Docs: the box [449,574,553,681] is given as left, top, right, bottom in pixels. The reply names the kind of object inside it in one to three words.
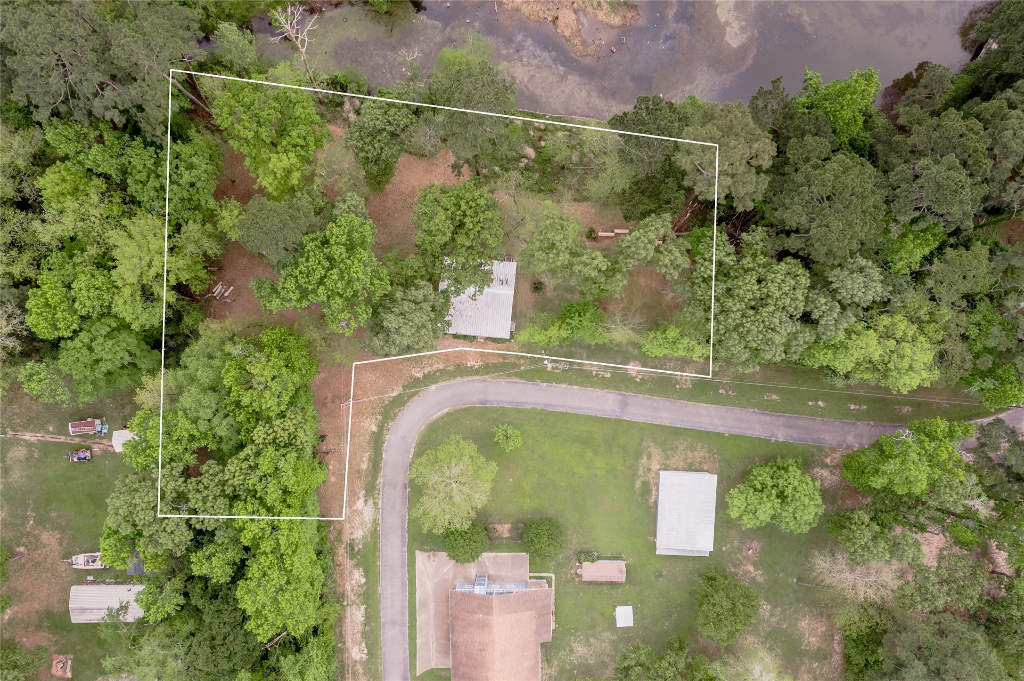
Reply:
house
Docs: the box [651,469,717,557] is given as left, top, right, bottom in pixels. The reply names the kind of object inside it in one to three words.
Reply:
building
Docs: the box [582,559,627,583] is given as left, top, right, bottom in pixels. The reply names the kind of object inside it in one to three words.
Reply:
shed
